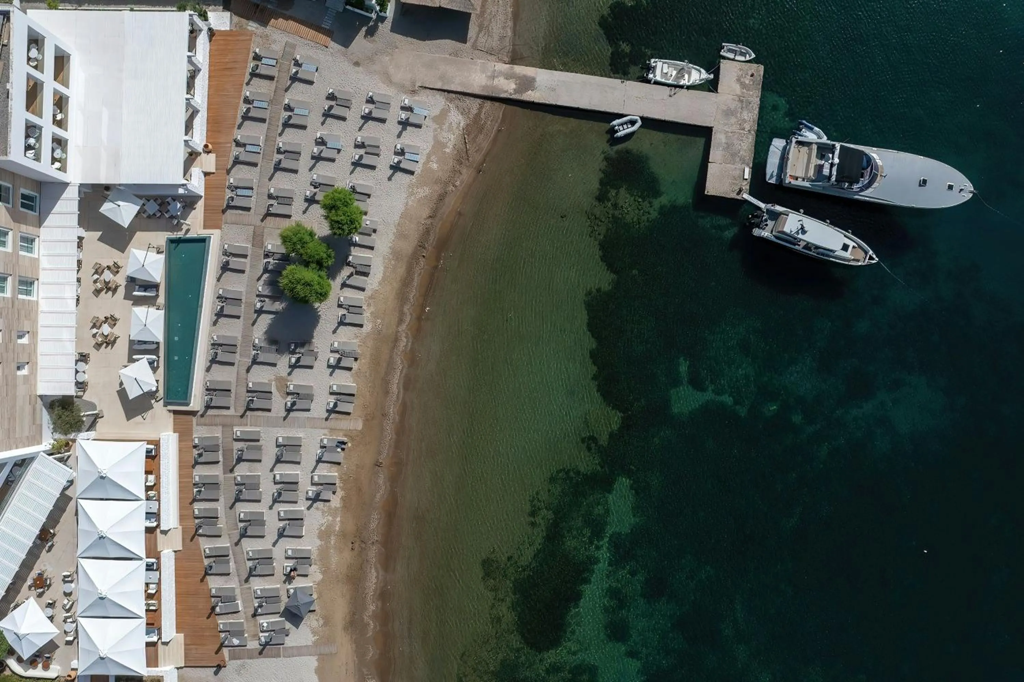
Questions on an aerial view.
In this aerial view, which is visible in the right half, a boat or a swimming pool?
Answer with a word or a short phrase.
boat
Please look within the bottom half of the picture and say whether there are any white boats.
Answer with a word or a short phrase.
No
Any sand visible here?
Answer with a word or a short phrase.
Yes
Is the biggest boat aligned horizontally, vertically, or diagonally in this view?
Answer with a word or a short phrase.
horizontally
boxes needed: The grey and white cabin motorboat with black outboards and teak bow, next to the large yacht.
[744,205,879,262]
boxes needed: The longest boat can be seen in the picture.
[764,137,977,208]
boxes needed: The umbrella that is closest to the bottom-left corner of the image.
[0,598,61,660]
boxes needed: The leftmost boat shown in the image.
[611,117,642,138]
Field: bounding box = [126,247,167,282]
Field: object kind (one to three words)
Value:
umbrella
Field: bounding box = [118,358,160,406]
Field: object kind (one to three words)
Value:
umbrella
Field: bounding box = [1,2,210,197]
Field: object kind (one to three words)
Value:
building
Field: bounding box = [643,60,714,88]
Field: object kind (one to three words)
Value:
boat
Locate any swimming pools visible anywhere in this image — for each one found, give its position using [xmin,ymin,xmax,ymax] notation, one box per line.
[163,233,224,411]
